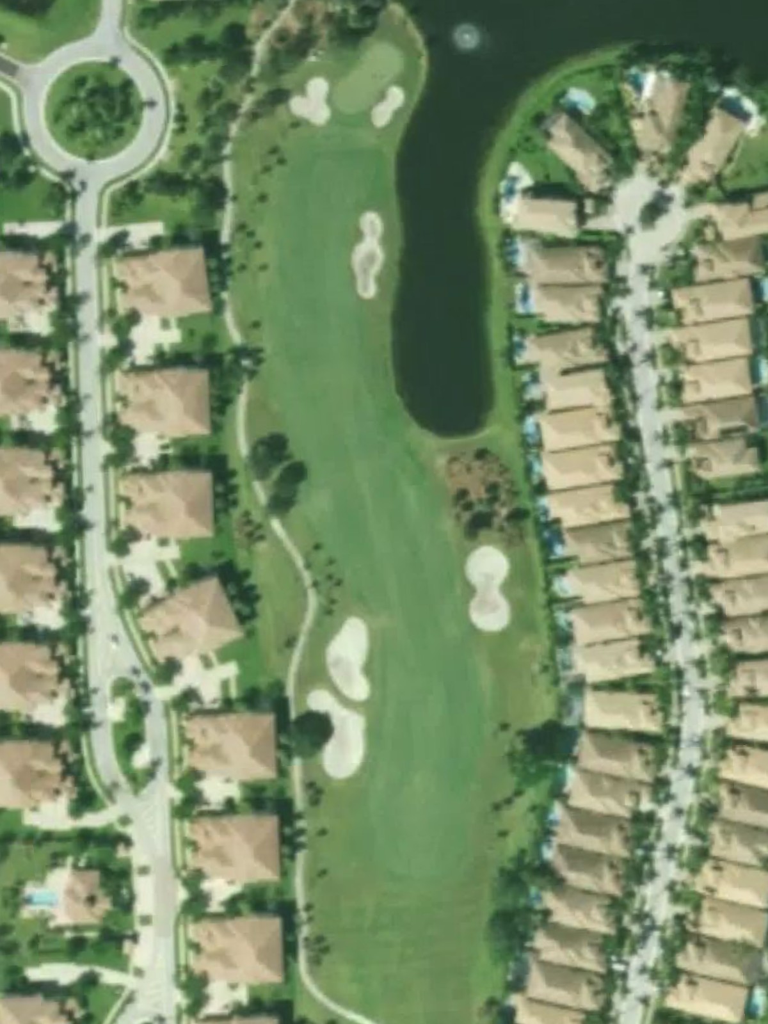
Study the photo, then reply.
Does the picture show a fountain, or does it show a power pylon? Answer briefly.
fountain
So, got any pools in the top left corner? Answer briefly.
No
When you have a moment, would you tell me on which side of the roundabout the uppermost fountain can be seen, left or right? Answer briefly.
on the right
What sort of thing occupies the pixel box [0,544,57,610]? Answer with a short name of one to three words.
house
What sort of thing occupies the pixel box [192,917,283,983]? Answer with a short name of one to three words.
house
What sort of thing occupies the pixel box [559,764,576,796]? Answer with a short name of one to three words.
swimming pool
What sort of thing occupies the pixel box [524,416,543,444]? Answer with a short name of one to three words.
swimming pool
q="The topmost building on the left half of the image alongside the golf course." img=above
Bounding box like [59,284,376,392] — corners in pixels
[121,246,209,312]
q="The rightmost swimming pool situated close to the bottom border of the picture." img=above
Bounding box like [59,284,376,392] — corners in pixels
[748,986,768,1023]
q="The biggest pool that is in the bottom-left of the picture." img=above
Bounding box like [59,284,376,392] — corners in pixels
[23,868,66,927]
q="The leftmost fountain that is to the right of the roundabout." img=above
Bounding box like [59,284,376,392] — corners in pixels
[451,21,482,53]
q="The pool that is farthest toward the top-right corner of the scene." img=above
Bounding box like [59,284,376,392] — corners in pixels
[719,88,763,135]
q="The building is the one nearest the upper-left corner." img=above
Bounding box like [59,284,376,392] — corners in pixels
[0,252,49,317]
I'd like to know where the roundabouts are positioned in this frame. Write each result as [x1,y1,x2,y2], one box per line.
[22,0,163,194]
